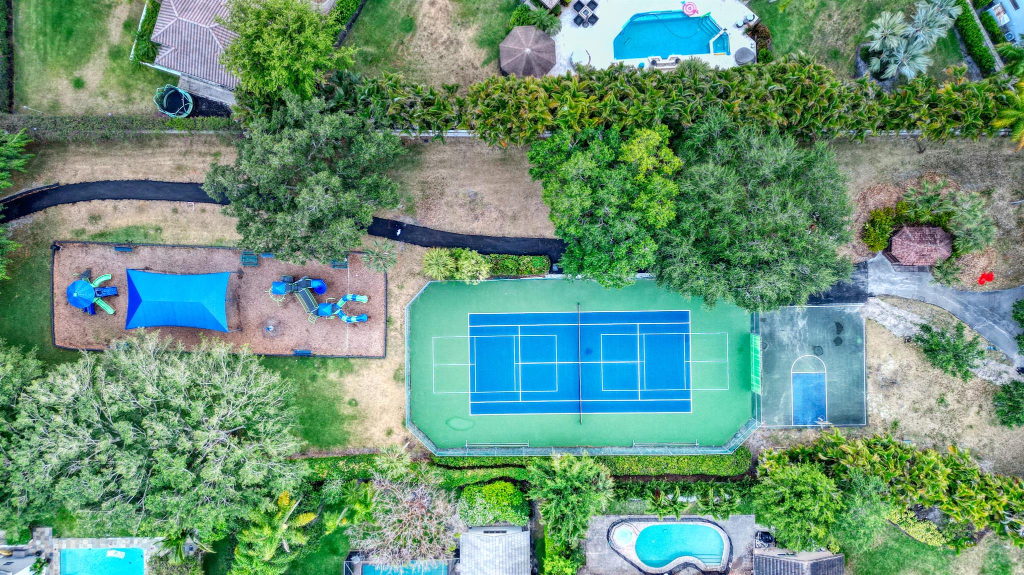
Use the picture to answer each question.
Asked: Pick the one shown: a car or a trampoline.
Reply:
trampoline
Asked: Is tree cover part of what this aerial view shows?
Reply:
Yes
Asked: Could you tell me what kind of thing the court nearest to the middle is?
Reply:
tennis court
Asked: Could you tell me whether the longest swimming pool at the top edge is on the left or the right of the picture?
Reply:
right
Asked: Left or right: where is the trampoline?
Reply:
left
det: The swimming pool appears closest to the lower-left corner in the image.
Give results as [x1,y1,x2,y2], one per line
[56,545,147,575]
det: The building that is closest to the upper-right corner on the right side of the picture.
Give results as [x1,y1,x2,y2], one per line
[880,226,953,272]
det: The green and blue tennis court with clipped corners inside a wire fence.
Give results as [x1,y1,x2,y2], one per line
[411,279,749,448]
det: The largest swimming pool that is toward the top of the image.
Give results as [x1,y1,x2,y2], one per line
[614,13,722,59]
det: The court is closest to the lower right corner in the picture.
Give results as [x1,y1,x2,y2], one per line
[749,304,868,428]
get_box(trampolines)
[153,81,197,118]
